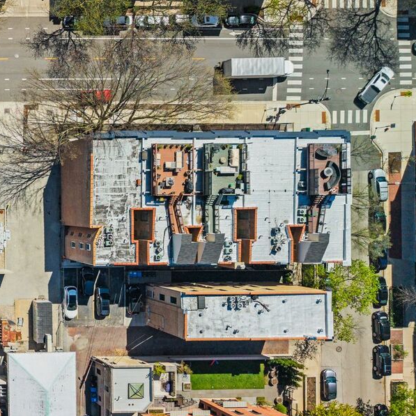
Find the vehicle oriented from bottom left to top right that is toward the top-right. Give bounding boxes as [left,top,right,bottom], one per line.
[360,67,396,104]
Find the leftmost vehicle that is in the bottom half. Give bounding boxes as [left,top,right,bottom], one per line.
[64,287,79,320]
